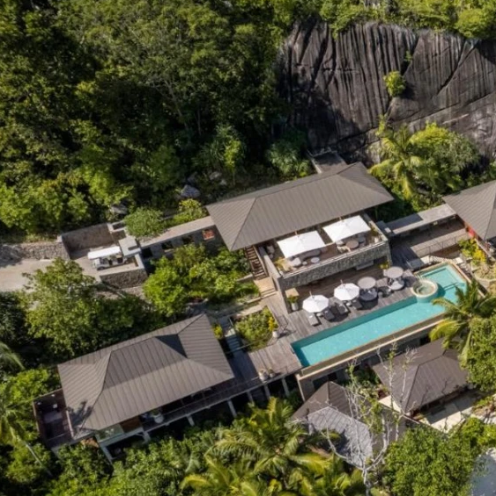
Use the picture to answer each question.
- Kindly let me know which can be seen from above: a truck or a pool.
pool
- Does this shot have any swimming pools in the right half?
Yes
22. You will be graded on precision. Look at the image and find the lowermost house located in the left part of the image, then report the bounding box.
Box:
[59,312,301,465]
